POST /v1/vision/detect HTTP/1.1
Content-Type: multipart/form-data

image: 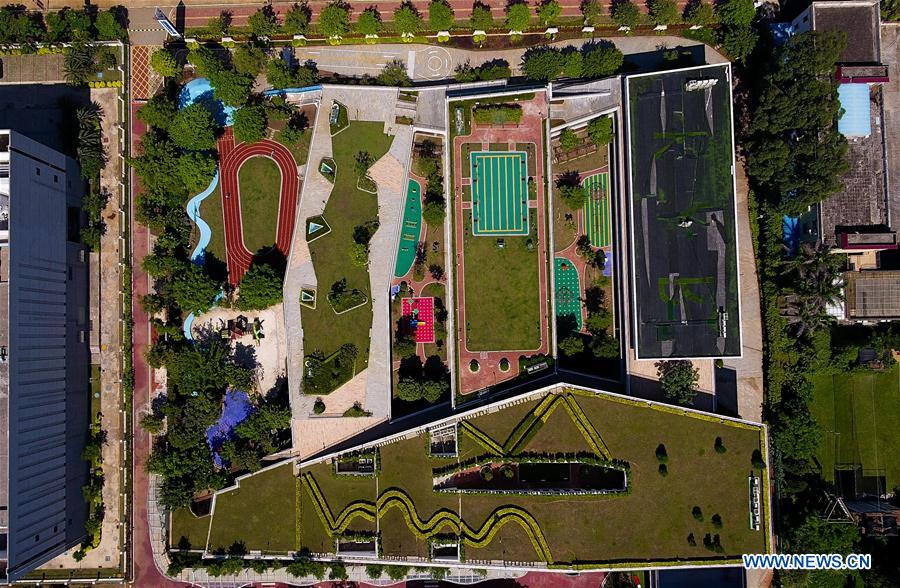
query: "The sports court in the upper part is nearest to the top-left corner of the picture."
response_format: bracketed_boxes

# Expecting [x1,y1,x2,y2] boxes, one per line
[396,177,423,278]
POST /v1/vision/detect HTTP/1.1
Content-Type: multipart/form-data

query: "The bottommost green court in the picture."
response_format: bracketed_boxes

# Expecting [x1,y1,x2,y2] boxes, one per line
[553,254,582,333]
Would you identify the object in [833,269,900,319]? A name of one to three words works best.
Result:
building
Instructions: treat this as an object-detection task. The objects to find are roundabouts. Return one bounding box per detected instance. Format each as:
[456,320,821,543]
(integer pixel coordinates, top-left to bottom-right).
[417,47,451,80]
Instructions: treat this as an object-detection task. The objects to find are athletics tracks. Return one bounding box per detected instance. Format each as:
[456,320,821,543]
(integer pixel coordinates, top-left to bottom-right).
[217,127,300,287]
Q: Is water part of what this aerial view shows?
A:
No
